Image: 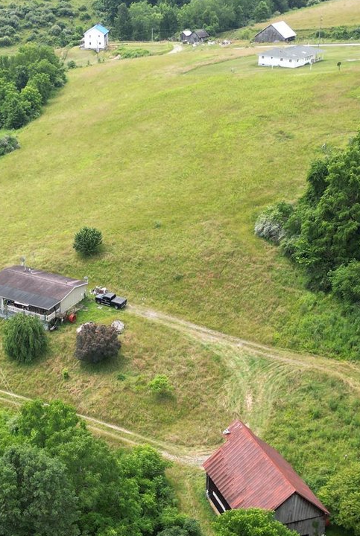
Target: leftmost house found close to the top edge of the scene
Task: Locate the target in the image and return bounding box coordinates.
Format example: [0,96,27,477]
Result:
[78,18,111,50]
